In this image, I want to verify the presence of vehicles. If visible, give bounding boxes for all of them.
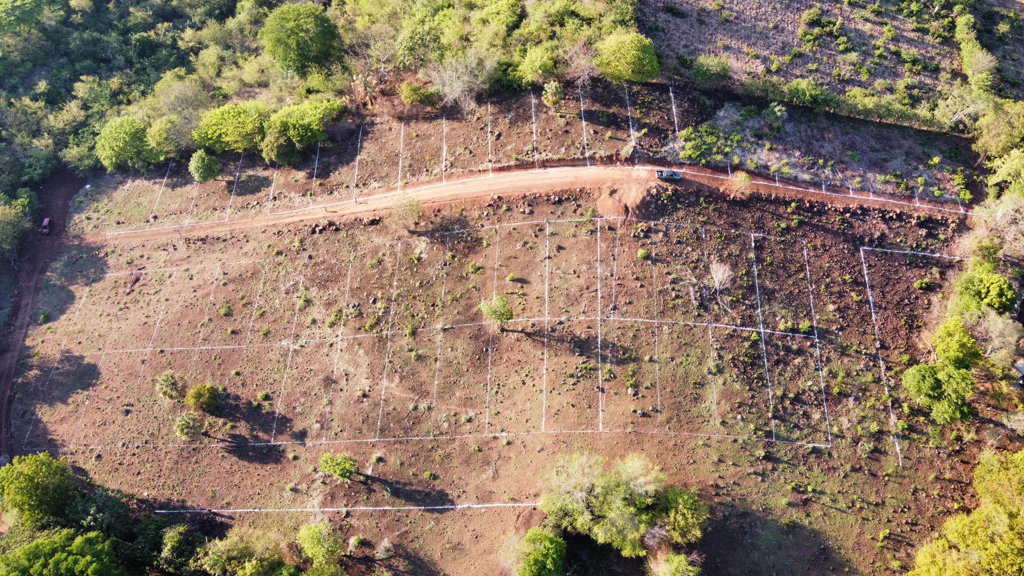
[654,170,682,182]
[39,217,53,235]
